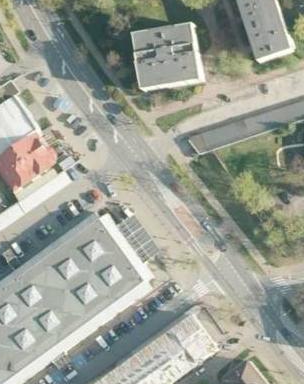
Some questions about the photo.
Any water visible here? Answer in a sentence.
No, water can't be seen anywhere here.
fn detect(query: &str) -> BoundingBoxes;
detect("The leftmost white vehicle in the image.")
[10,242,24,257]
